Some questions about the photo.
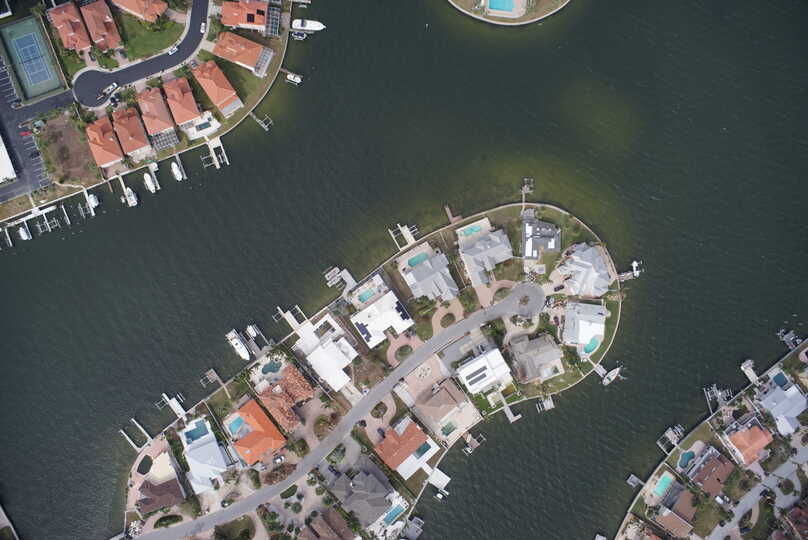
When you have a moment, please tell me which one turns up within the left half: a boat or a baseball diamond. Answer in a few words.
boat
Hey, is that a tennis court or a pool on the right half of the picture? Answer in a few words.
pool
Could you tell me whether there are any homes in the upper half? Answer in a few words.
Yes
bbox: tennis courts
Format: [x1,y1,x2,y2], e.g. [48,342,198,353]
[2,19,62,98]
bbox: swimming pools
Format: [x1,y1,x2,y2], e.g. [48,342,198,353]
[407,251,429,268]
[678,451,696,469]
[137,454,153,475]
[228,416,245,435]
[184,418,211,443]
[462,224,482,235]
[441,422,458,437]
[583,336,600,354]
[488,0,516,13]
[261,360,282,374]
[357,287,375,304]
[383,504,405,527]
[772,372,790,388]
[415,442,432,459]
[195,121,212,132]
[653,474,675,498]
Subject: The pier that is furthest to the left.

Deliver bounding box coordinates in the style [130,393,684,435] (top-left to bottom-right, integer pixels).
[0,205,58,247]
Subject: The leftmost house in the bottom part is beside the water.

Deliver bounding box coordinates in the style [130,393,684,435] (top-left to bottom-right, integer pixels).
[138,451,186,514]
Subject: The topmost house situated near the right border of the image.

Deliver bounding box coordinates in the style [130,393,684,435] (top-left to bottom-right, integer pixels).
[761,384,806,436]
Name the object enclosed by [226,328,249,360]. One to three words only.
boat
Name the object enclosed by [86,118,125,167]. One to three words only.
house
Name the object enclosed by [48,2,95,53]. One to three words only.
house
